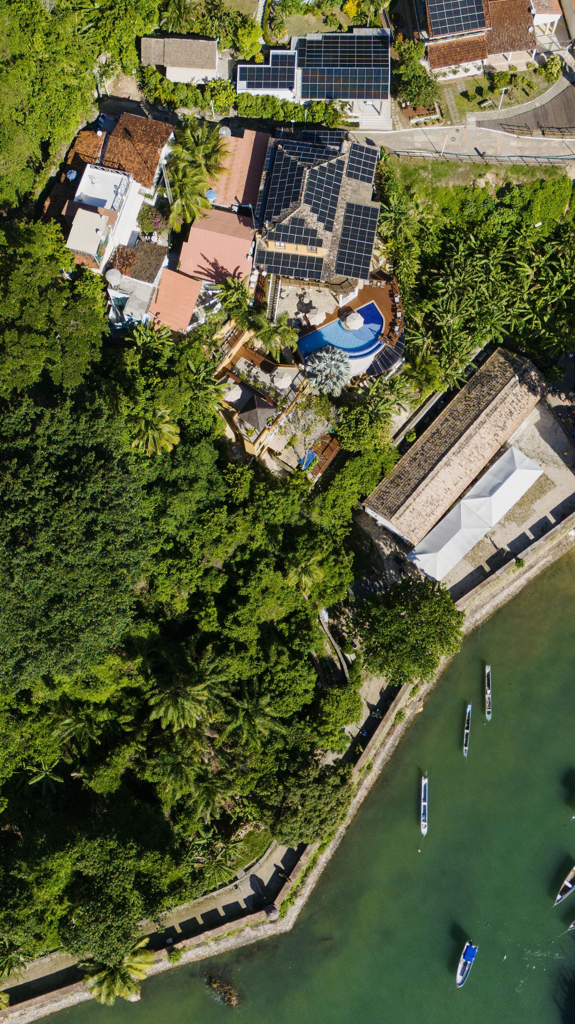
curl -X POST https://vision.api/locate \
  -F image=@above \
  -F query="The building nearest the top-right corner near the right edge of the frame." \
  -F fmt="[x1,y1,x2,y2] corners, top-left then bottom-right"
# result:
[420,0,575,79]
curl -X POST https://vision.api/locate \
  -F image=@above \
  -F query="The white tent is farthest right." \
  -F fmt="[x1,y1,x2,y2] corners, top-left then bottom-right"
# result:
[405,446,543,578]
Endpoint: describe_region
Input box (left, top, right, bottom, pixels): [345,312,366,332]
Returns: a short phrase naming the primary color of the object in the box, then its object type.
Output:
white umbrella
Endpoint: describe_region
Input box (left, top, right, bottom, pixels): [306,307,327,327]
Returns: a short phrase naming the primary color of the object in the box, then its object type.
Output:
white umbrella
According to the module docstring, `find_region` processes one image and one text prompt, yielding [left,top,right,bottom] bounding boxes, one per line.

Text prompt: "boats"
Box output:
[486,666,492,721]
[554,857,575,906]
[454,940,480,988]
[567,916,575,931]
[421,770,428,836]
[464,705,472,757]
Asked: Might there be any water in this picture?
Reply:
Yes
